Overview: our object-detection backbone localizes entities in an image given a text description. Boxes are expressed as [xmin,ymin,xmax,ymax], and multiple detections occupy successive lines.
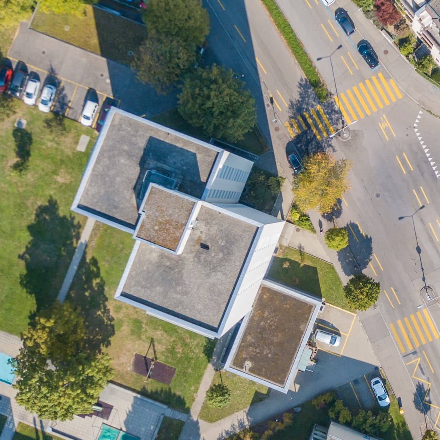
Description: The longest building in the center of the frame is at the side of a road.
[71,108,323,394]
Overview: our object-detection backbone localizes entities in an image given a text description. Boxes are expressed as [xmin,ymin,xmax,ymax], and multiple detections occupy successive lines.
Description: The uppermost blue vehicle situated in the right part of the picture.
[334,6,356,37]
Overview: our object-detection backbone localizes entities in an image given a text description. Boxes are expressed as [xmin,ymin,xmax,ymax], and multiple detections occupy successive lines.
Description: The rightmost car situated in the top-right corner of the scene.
[356,38,381,71]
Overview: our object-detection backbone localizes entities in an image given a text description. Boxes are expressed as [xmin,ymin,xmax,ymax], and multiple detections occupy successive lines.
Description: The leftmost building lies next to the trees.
[30,0,150,67]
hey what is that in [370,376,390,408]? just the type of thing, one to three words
car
